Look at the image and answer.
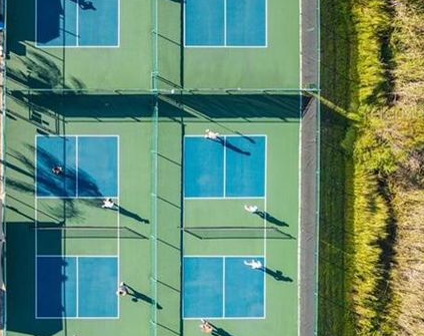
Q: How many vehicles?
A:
zero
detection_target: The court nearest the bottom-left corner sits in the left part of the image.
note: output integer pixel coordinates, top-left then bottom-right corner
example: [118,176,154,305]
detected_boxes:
[36,135,119,320]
